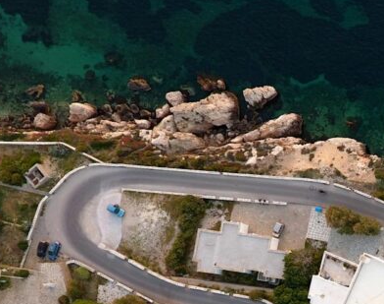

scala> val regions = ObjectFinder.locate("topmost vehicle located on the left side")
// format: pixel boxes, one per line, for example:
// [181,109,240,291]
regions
[105,203,128,219]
